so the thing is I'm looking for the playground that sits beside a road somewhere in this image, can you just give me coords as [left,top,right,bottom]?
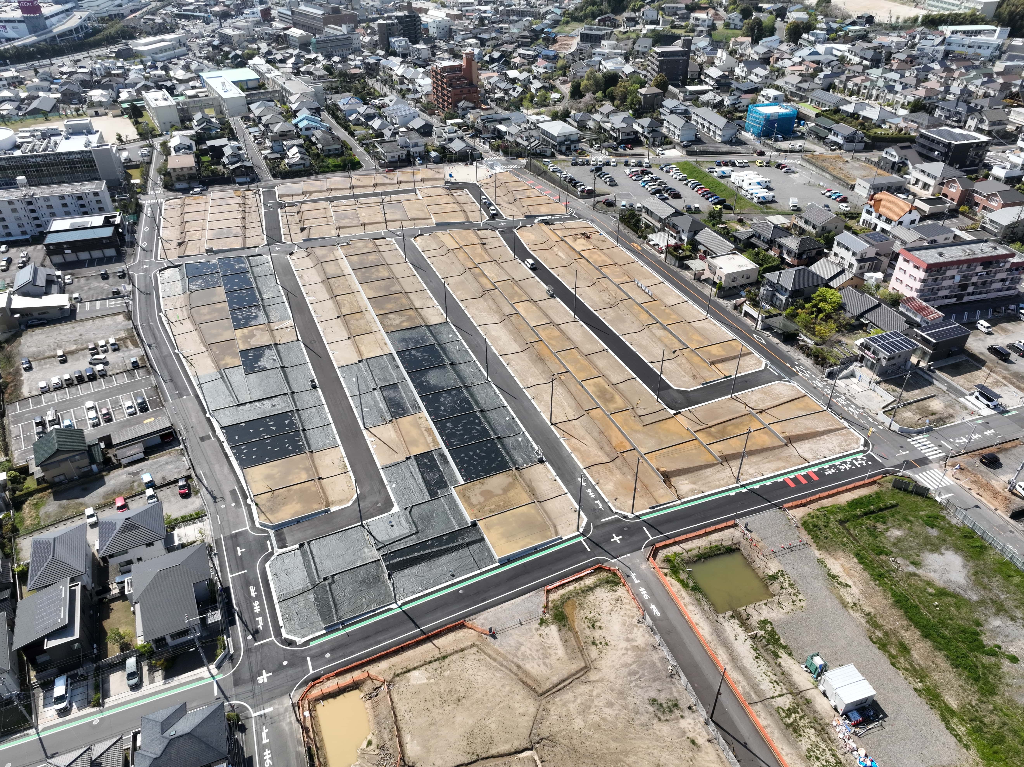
[445,162,504,184]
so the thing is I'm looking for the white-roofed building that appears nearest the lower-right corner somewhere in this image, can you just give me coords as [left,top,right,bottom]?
[820,664,876,713]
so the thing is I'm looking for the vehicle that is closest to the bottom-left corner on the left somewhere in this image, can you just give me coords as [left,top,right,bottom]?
[52,676,70,712]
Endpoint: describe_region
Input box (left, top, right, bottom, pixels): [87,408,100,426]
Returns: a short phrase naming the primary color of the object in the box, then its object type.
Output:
white vehicle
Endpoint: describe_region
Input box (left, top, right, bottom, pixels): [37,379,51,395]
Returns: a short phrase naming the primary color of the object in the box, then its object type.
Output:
white car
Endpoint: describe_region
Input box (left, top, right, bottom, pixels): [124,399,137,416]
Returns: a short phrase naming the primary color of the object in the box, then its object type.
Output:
white vehicle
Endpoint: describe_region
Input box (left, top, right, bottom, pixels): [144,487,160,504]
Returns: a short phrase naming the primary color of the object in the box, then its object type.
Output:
white car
